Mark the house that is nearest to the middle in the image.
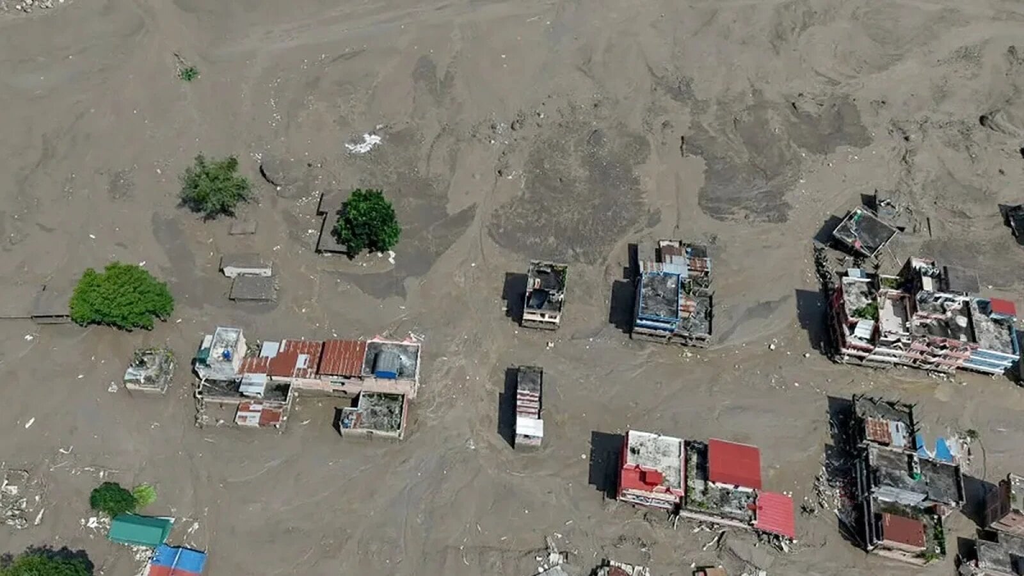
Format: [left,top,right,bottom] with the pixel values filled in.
[521,262,565,328]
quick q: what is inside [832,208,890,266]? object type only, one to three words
house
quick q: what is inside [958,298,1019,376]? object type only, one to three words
house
